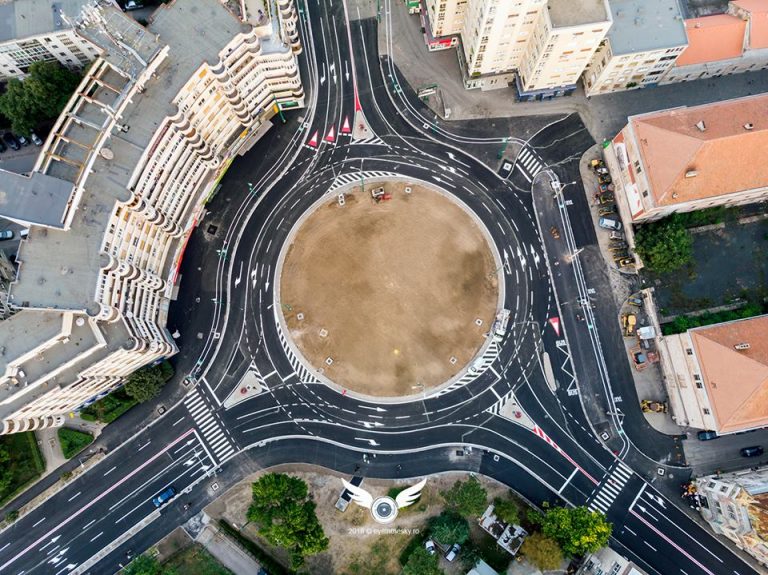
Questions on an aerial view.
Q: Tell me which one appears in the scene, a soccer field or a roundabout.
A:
roundabout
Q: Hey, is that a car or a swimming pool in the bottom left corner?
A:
car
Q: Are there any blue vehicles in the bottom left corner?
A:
Yes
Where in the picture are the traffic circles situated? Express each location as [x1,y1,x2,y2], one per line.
[214,5,608,481]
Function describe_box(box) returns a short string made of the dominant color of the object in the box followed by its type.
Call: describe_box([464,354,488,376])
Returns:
white vehicle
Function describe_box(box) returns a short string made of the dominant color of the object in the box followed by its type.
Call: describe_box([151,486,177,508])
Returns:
blue car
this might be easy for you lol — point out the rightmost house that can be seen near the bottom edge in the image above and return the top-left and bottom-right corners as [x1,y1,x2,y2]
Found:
[694,467,768,568]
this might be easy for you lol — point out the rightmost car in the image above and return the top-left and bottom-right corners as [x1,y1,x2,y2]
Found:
[737,444,766,459]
